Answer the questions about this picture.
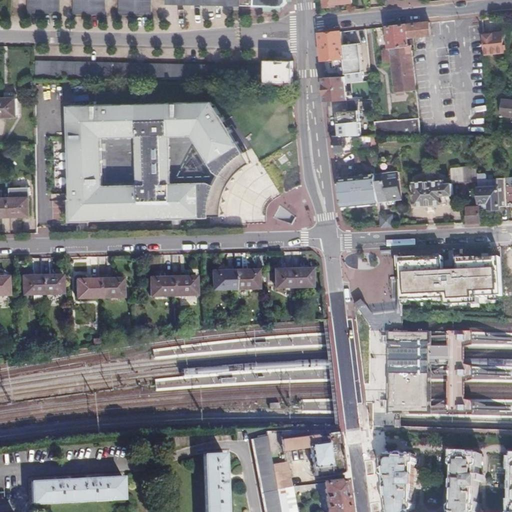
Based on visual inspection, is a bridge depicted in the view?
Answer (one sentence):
Yes, you can see a bridge in this photo.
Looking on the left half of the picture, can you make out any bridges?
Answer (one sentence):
No, there's no bridge to be seen on the left half of the picture.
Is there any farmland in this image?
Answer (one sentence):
No, the scene doesn't show any farmland.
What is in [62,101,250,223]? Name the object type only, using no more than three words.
building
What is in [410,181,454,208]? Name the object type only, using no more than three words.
house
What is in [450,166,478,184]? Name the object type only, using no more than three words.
shed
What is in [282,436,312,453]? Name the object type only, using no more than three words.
shed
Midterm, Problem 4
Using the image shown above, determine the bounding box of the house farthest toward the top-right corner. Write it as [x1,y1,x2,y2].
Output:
[482,30,507,56]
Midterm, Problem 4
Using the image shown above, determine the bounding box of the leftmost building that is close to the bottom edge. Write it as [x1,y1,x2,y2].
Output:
[31,475,129,506]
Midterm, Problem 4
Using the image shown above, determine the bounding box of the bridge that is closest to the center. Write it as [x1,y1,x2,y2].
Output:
[324,292,366,429]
